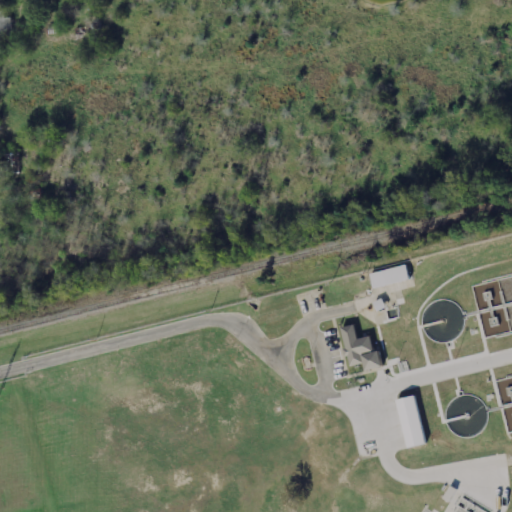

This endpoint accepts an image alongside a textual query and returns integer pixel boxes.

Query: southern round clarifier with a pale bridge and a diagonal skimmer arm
[446,396,489,438]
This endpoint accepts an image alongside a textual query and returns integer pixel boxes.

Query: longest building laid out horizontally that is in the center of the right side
[370,265,410,288]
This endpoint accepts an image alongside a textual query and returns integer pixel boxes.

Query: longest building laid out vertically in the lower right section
[396,396,426,449]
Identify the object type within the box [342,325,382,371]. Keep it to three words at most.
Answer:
building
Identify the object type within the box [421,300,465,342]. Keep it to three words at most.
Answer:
storage tank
